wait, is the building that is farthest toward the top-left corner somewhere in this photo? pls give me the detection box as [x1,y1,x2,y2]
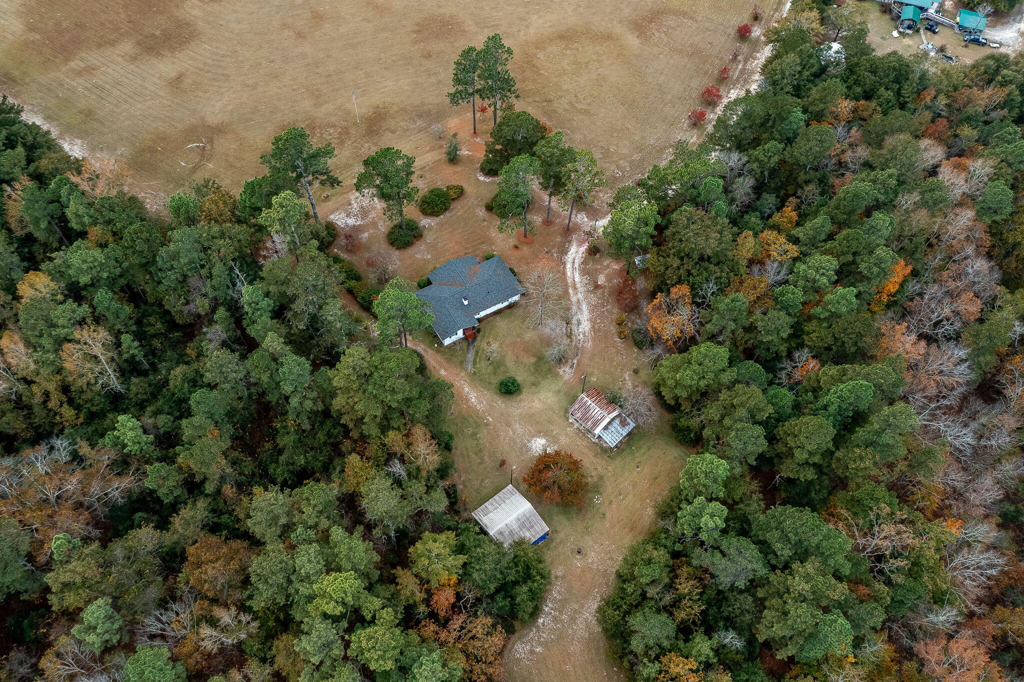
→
[427,255,526,346]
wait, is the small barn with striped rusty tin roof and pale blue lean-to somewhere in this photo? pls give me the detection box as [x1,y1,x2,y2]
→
[568,388,635,453]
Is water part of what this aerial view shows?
No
